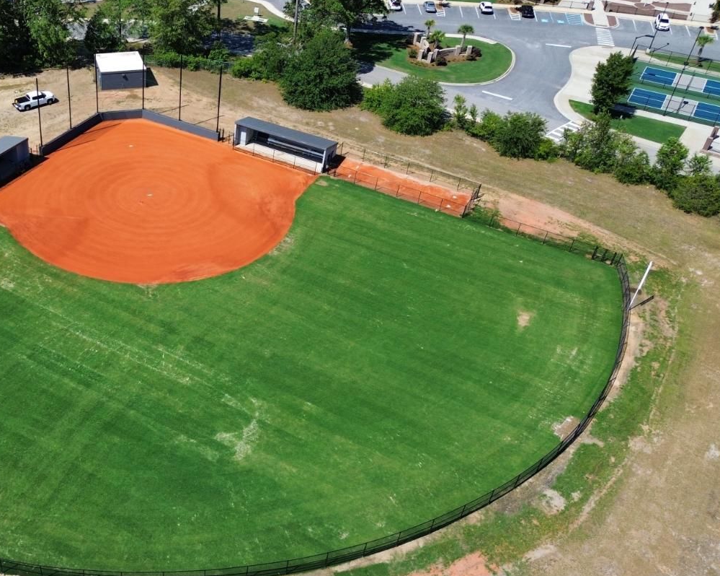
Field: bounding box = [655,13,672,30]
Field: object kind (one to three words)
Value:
car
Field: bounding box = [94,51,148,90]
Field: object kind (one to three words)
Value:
shed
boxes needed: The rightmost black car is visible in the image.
[520,2,536,18]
